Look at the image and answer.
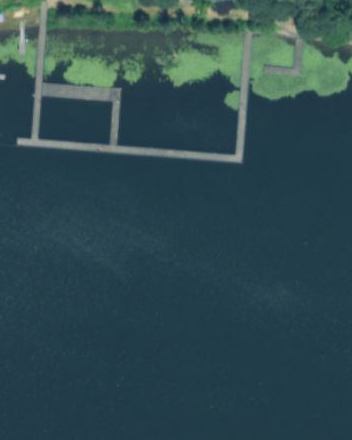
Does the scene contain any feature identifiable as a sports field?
No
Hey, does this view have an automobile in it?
No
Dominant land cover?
water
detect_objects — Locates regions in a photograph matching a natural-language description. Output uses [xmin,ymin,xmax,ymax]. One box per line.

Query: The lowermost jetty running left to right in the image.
[16,138,242,162]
